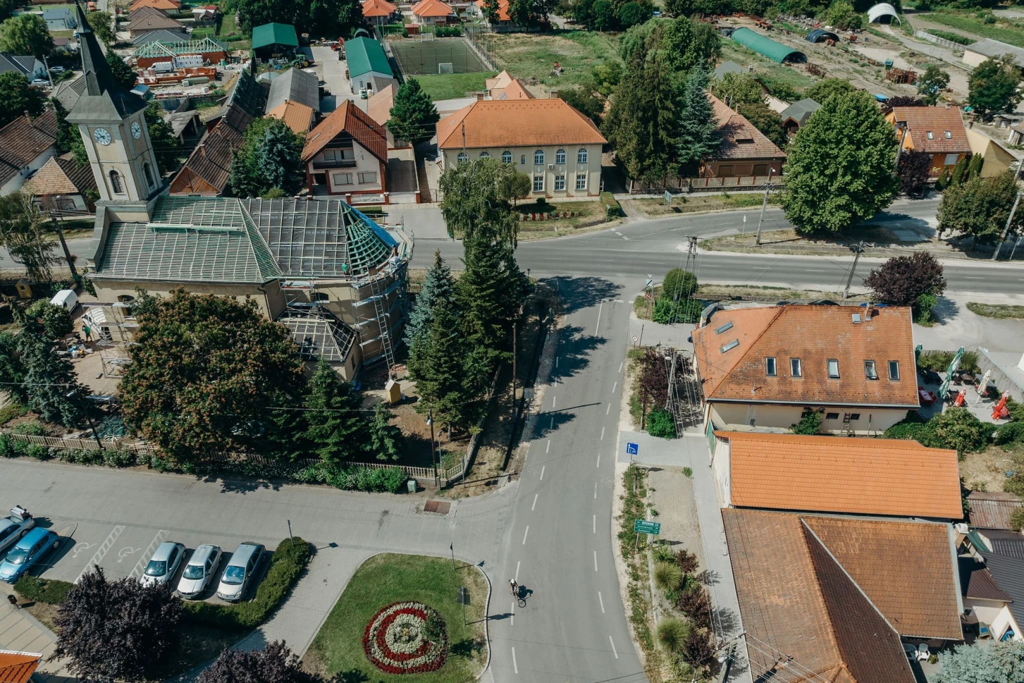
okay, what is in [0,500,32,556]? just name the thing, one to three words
car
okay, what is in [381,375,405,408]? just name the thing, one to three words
shed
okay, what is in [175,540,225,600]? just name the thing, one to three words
car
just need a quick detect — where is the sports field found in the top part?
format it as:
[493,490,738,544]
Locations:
[387,39,493,75]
